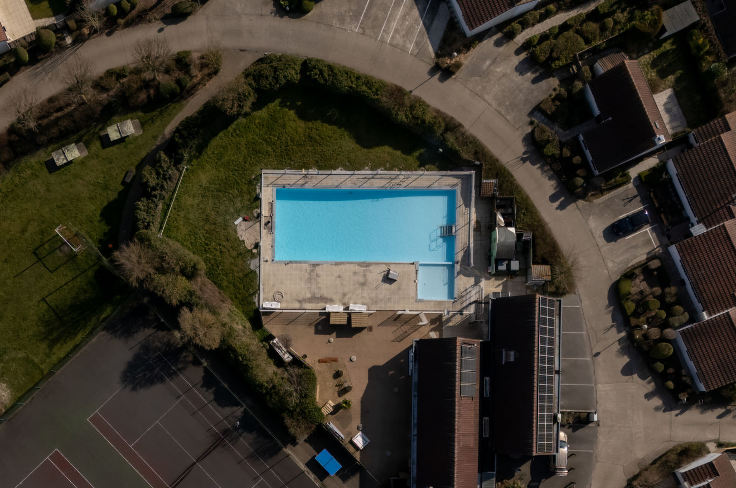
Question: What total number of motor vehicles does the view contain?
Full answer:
The photo contains 2 motor vehicles.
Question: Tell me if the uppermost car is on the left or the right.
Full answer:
The uppermost car appears in the right half of the scene.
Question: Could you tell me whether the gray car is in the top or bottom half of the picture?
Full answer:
It is in the bottom half that the gray car appears.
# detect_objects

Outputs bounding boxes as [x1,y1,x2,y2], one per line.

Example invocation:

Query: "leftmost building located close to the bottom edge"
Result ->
[406,337,482,488]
